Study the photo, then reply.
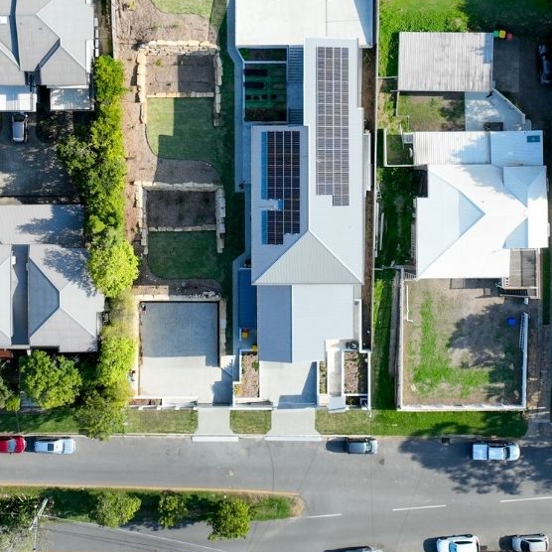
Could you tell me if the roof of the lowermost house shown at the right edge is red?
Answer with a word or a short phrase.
No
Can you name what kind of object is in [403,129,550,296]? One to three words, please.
house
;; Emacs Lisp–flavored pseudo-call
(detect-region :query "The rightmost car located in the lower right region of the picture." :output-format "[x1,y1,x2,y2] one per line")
[511,534,552,552]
